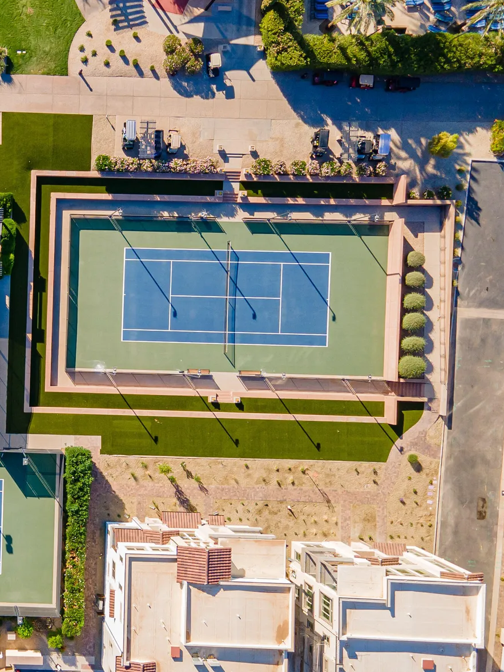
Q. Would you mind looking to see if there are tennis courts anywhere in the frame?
Yes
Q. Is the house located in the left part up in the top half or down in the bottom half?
bottom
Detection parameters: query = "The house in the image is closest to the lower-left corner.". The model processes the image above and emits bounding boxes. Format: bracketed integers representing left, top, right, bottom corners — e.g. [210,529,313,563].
[98,510,298,672]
